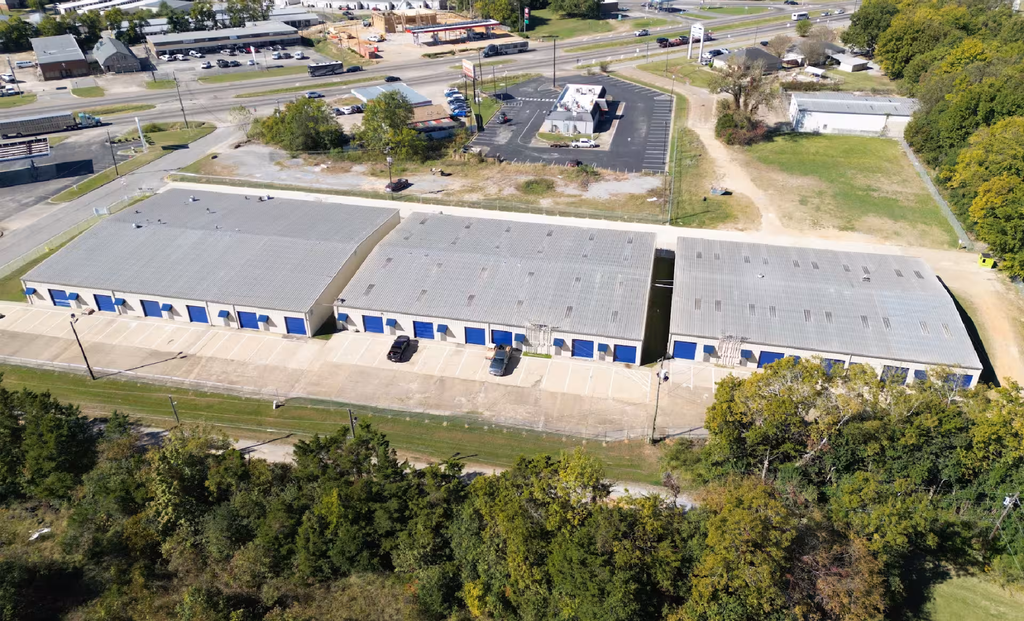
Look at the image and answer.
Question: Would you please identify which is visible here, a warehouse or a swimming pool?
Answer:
warehouse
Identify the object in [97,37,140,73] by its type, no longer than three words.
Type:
barn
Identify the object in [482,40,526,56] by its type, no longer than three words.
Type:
vehicle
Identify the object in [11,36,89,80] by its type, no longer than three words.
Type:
building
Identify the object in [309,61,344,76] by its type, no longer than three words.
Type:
camper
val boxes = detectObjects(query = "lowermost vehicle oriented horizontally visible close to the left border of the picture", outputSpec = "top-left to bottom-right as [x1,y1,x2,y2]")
[0,114,102,137]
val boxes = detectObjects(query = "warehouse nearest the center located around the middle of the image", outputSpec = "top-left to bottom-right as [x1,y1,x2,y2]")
[330,211,658,364]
